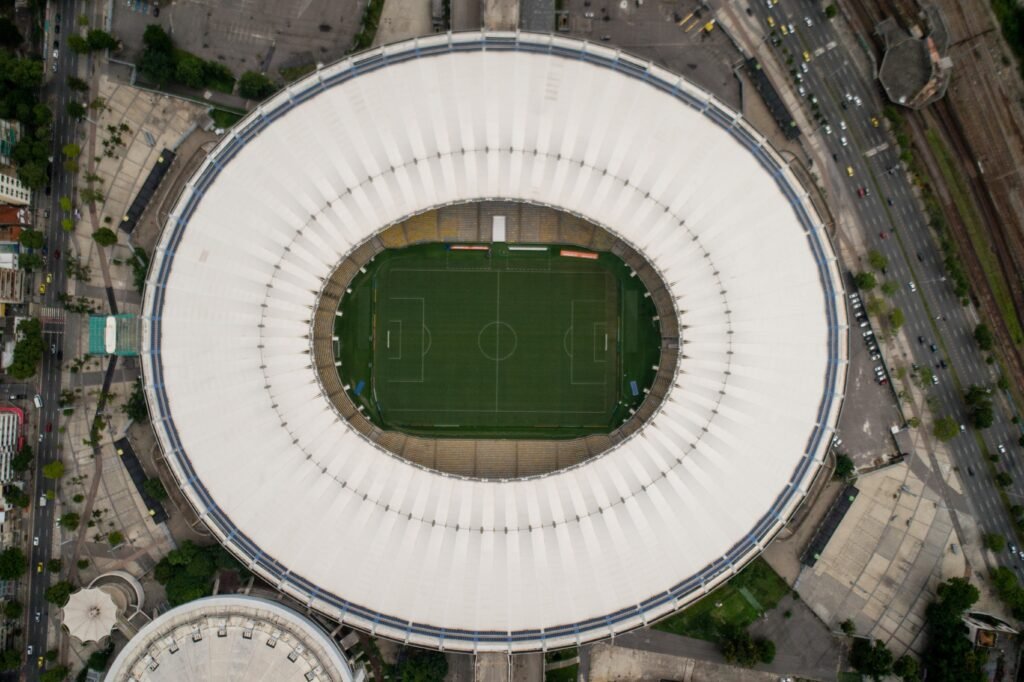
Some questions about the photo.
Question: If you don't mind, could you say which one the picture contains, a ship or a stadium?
stadium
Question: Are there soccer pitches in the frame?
Yes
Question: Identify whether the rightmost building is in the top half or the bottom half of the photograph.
bottom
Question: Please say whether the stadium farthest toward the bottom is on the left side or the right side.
left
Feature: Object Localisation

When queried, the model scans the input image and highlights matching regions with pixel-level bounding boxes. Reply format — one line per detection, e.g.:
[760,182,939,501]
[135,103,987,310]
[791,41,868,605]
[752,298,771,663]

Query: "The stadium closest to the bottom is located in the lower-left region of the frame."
[104,592,357,682]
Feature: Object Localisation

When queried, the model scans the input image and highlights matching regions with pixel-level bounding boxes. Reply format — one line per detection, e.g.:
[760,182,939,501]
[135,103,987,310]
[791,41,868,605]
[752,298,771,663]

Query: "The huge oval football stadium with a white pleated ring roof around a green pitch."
[140,29,849,653]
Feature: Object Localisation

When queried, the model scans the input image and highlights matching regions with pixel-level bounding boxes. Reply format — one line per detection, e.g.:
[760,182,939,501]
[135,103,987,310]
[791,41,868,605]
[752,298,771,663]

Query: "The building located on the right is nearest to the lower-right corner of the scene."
[961,613,1019,648]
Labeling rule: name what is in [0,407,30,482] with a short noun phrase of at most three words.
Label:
building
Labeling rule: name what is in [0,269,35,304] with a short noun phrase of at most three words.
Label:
building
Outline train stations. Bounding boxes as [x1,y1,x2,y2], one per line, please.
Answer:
[876,0,953,110]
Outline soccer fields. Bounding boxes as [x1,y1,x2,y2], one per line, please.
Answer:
[374,261,620,429]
